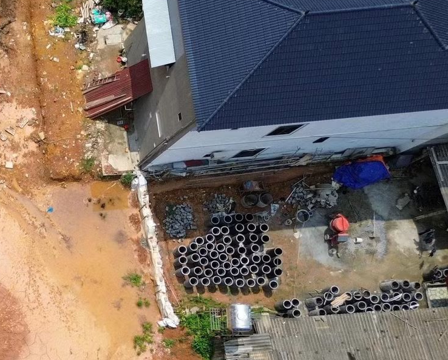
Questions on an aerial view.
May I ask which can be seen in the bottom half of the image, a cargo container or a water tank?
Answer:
water tank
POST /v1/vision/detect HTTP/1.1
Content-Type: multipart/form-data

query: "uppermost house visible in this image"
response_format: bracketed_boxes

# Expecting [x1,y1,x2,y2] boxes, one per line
[123,0,448,171]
